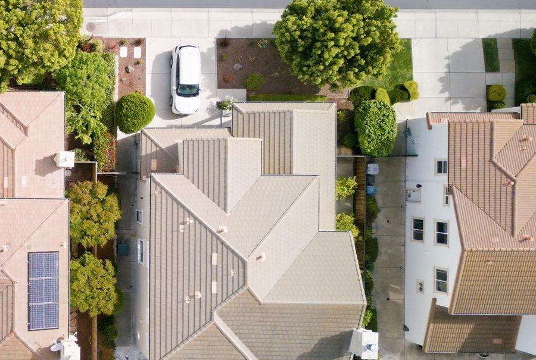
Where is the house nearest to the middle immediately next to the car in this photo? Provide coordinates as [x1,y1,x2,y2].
[136,100,375,360]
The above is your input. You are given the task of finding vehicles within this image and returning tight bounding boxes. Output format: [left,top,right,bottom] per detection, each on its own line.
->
[173,43,208,112]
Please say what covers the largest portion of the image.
buildings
